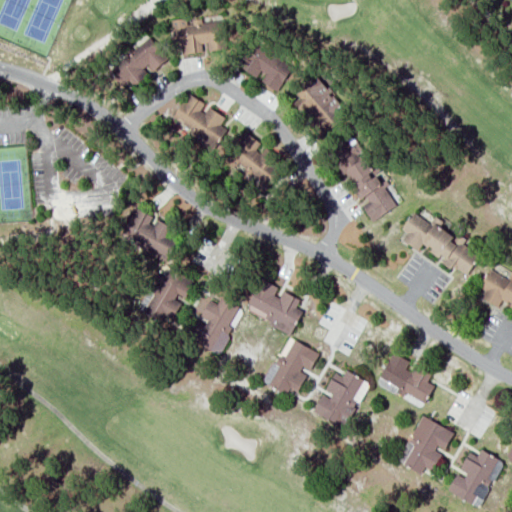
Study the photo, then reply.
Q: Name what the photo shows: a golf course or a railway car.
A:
golf course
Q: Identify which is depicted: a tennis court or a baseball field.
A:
tennis court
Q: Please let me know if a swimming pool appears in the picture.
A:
No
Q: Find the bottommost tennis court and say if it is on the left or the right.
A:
left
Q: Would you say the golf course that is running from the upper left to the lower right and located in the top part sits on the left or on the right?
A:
right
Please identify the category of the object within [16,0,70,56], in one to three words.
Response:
tennis court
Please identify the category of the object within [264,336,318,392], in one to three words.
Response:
house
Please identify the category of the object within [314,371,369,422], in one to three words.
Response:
house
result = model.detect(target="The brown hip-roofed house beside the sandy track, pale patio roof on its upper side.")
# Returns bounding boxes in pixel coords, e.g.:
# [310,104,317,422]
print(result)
[112,34,165,88]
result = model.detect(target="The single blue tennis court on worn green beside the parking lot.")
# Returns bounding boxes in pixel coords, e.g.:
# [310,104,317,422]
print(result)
[0,146,34,222]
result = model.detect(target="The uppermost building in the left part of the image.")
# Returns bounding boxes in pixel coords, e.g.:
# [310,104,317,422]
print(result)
[173,16,226,59]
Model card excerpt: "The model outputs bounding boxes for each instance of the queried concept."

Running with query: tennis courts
[16,0,70,56]
[0,0,34,43]
[0,146,34,222]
